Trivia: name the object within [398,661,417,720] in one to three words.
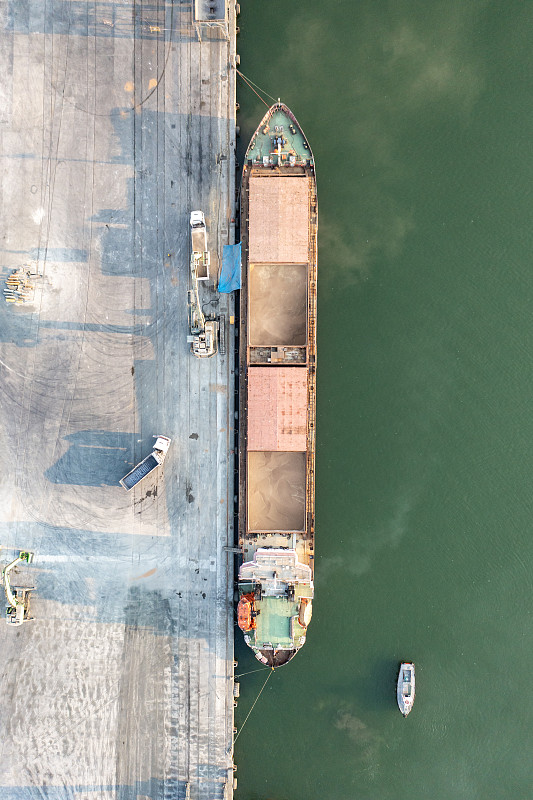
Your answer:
boat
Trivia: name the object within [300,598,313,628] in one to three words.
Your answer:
boat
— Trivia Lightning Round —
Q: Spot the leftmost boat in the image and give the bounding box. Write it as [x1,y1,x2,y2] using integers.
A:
[238,596,252,630]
